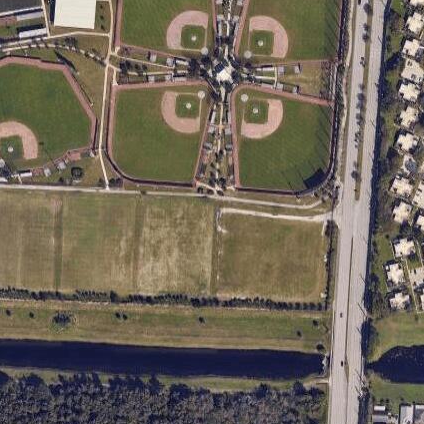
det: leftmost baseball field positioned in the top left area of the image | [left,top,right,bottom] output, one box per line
[0,54,101,178]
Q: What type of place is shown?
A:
sports ground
